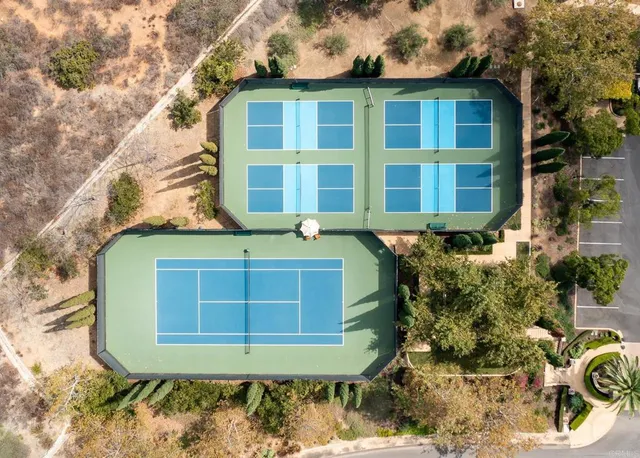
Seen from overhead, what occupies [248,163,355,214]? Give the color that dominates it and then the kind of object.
blue sports court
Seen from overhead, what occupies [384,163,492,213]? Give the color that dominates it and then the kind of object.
blue sports court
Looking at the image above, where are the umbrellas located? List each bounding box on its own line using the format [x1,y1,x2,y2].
[300,217,319,237]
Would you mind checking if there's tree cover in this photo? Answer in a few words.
Yes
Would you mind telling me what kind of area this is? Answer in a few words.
sports ground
